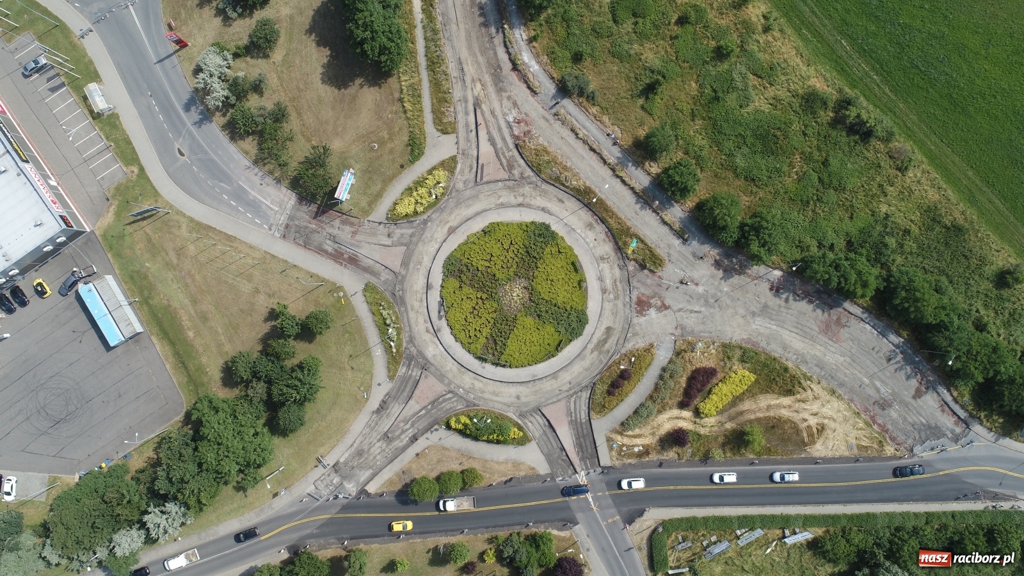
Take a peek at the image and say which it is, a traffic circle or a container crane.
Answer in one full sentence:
Of the two, only a traffic circle appears.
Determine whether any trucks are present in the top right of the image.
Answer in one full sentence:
No, in the top right of the image there is no truck.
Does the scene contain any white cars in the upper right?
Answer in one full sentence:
No, the scene shows no white car in the upper right.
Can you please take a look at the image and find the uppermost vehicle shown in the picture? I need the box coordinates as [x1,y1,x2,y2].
[23,57,47,76]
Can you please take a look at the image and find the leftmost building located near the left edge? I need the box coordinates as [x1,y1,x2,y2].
[0,100,92,293]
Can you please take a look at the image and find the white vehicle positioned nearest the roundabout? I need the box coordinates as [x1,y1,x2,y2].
[620,478,644,491]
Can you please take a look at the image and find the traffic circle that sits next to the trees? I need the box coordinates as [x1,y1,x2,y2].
[329,106,631,473]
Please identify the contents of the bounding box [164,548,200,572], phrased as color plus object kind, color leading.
white truck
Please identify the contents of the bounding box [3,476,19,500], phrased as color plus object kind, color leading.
white car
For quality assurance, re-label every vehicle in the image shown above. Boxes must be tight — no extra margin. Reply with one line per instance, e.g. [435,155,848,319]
[0,472,5,494]
[0,290,19,313]
[712,472,737,483]
[35,277,52,298]
[439,498,476,513]
[620,478,644,491]
[771,471,798,483]
[3,476,19,500]
[236,525,260,541]
[164,548,200,572]
[10,284,31,307]
[23,57,47,76]
[894,464,922,478]
[60,272,79,296]
[390,520,413,532]
[562,484,588,495]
